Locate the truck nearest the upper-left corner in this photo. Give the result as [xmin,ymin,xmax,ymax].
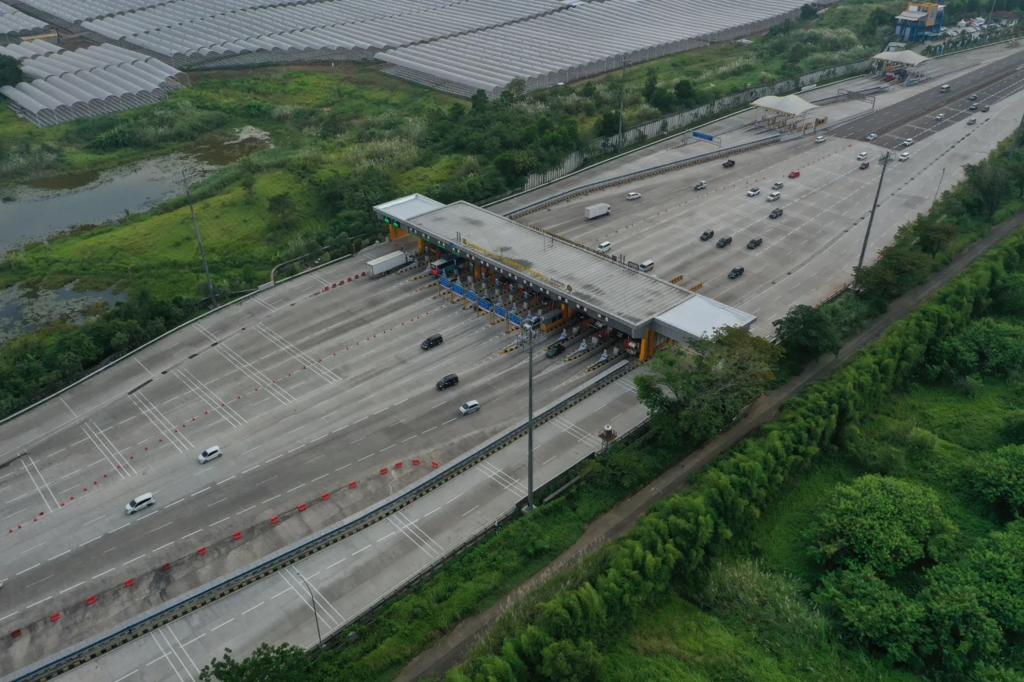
[366,250,409,275]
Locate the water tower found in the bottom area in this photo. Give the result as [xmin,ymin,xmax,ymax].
[601,423,627,461]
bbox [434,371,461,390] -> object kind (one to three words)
car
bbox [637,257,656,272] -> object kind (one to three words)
vehicle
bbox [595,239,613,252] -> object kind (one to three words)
vehicle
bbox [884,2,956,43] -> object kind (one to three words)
building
